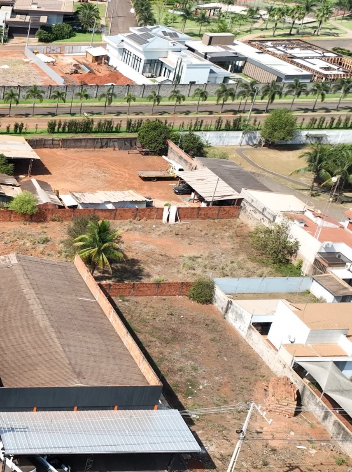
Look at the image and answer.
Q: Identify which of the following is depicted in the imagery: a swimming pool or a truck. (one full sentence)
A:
Of the two, only a truck appears.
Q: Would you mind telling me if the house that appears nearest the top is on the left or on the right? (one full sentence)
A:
The house that appears nearest the top is on the left side of the image.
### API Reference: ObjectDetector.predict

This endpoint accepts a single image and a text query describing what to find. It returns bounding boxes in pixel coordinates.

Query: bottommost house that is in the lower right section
[236,296,352,433]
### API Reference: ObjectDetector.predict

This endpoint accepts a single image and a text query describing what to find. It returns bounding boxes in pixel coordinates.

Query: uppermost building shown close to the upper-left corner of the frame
[0,0,73,37]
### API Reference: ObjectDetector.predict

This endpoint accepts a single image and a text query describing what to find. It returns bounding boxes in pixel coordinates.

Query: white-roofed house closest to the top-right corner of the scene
[185,34,313,94]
